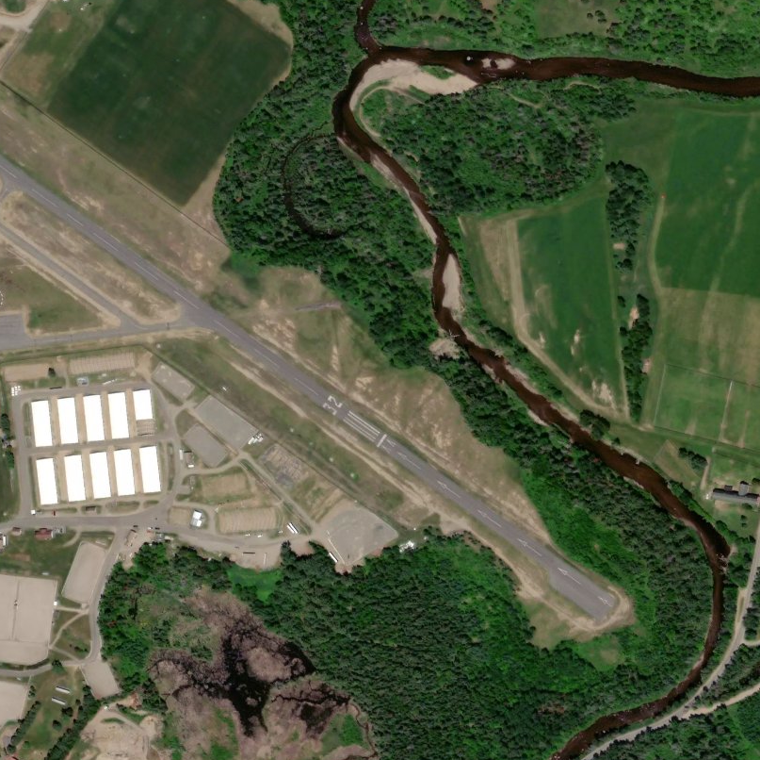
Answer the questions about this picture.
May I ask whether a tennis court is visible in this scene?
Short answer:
No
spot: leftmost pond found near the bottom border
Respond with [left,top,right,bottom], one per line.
[173,623,376,760]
